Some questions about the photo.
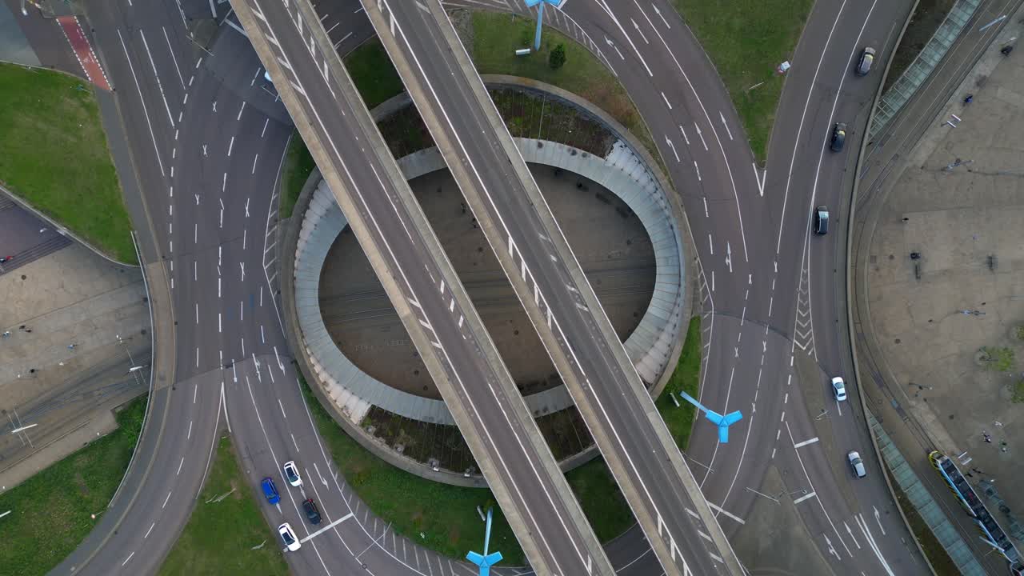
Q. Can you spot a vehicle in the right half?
Yes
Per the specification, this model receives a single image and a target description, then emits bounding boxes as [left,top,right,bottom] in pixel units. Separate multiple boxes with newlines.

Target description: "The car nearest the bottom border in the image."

[277,523,300,551]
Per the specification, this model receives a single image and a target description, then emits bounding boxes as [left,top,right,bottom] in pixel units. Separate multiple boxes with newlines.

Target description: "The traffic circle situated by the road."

[128,0,896,576]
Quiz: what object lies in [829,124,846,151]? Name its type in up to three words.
car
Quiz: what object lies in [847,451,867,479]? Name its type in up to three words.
car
